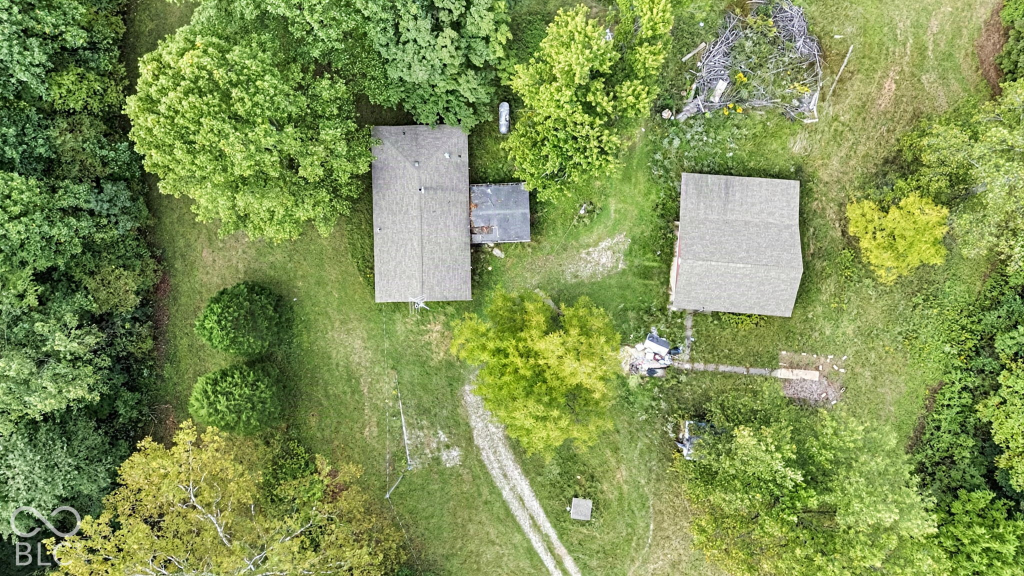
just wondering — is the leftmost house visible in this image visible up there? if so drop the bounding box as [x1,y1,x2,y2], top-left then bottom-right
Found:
[371,125,473,303]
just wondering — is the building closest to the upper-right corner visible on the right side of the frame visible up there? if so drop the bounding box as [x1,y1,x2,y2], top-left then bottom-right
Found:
[666,173,803,317]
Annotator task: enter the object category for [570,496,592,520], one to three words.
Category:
building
